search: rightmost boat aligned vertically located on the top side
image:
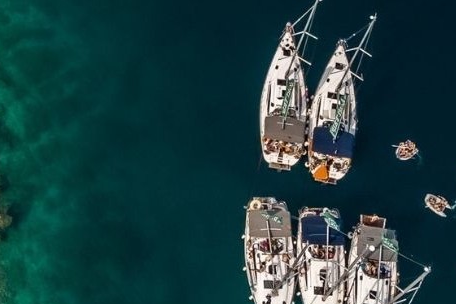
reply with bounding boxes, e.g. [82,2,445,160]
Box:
[311,10,379,183]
